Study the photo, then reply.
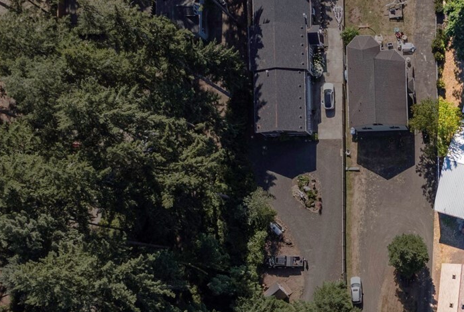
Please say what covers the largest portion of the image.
trees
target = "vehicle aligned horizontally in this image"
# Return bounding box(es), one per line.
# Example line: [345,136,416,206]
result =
[269,255,306,269]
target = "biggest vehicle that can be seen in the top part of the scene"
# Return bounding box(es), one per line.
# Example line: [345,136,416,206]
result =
[322,83,335,110]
